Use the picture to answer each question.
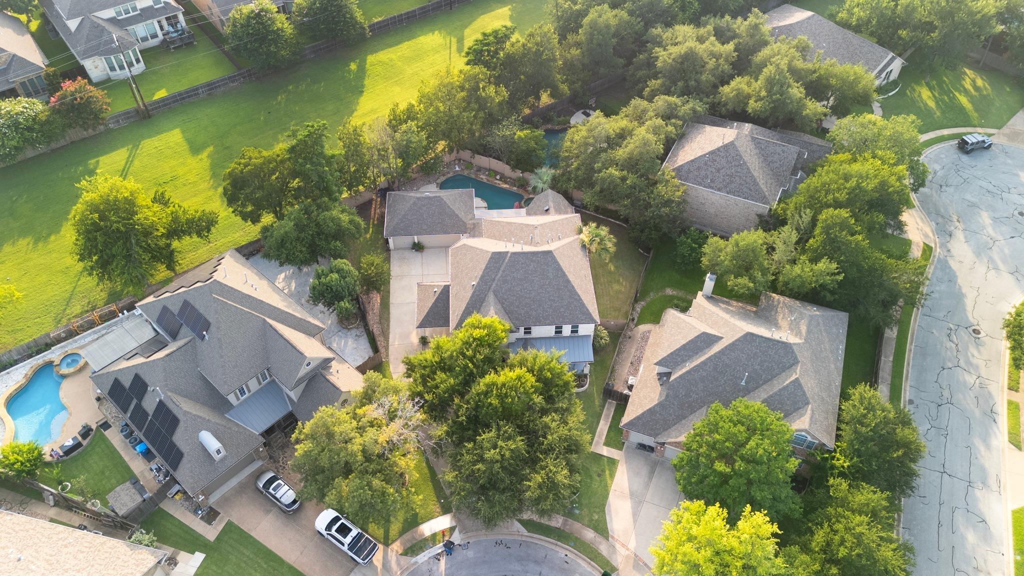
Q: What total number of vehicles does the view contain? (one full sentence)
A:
My tally gives 3 vehicles in this view.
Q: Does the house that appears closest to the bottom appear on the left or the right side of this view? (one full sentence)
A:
You can find the house that appears closest to the bottom on the left side of the picture.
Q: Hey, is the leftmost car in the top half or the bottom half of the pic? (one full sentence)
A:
You can find the leftmost car in the bottom half.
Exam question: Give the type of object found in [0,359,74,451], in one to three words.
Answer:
swimming pool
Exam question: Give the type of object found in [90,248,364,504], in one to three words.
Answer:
house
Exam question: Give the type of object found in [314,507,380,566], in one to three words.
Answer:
truck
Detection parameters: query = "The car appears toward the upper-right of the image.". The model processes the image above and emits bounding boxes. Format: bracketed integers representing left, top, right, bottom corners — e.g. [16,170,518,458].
[956,133,993,154]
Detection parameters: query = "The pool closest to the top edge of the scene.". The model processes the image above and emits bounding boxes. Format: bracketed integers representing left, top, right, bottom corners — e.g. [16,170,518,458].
[541,126,578,167]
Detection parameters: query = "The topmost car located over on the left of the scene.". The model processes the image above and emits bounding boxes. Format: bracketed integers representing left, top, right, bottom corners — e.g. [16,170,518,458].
[256,470,304,517]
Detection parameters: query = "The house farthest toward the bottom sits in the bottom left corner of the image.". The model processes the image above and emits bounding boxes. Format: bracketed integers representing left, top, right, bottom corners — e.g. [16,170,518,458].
[0,506,173,576]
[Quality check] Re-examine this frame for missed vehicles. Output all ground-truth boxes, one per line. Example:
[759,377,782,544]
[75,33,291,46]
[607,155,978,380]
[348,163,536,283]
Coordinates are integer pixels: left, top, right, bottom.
[314,507,380,566]
[256,470,304,517]
[956,133,993,154]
